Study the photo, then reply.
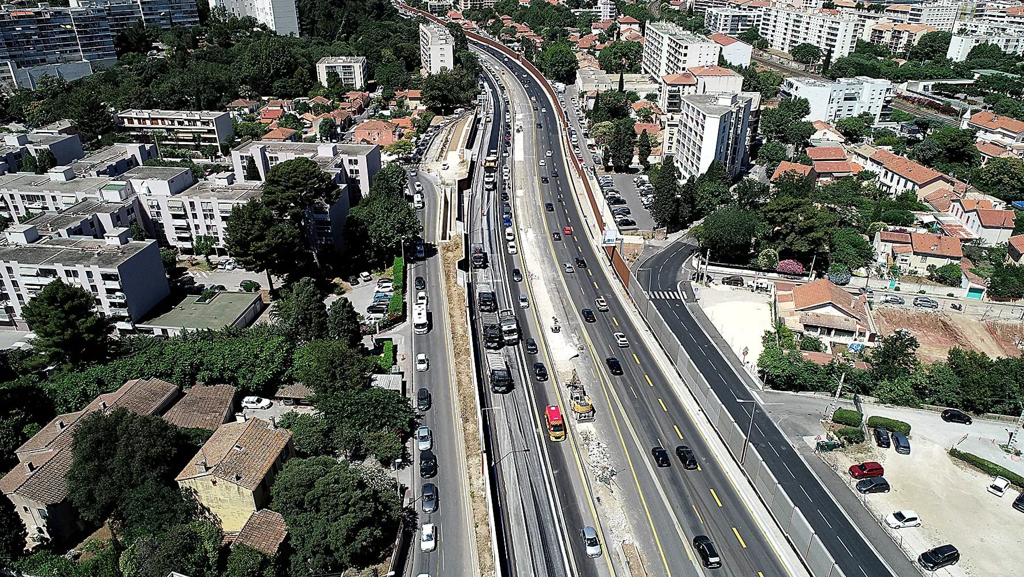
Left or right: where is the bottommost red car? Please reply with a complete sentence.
It is on the right.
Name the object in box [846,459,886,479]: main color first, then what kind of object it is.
red car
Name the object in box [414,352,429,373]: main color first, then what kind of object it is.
white car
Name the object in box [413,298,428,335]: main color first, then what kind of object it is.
white camper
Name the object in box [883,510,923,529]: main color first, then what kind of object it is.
white car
